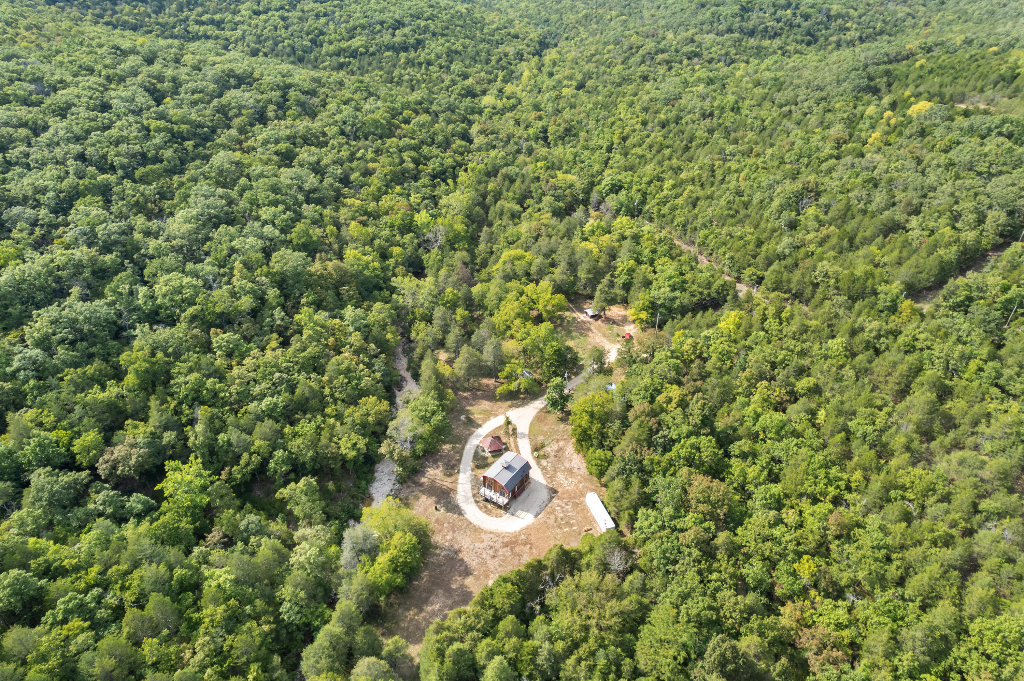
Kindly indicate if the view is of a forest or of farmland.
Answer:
forest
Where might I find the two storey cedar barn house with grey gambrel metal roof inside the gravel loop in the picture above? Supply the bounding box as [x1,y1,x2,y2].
[478,452,532,512]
